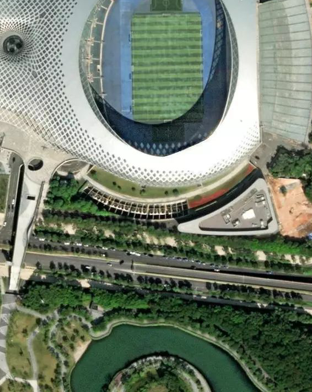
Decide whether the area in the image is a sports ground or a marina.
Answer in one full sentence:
It's a sports ground.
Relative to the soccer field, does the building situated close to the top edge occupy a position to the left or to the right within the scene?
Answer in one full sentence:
Looking at the photo, the building situated close to the top edge lies to the right of the soccer field.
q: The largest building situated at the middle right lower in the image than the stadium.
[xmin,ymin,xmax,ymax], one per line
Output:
[178,179,278,236]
